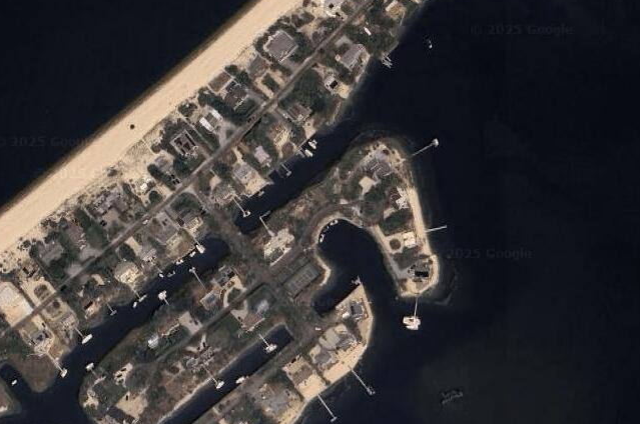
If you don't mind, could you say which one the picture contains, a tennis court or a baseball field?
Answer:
tennis court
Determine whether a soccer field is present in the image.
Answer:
No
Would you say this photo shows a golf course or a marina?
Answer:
marina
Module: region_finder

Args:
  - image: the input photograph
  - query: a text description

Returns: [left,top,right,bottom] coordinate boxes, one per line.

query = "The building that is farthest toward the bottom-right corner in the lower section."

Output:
[407,259,429,283]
